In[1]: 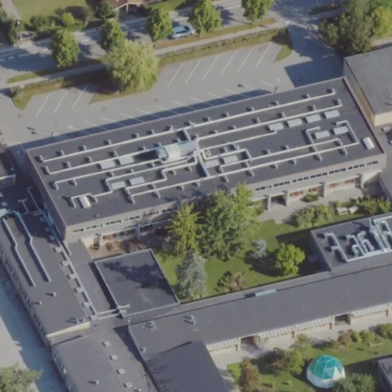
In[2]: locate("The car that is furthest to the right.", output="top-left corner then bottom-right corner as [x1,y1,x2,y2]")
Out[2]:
[169,22,195,37]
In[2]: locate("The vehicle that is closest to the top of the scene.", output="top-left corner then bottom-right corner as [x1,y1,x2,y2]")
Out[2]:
[128,3,142,18]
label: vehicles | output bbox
[169,22,195,37]
[128,3,142,18]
